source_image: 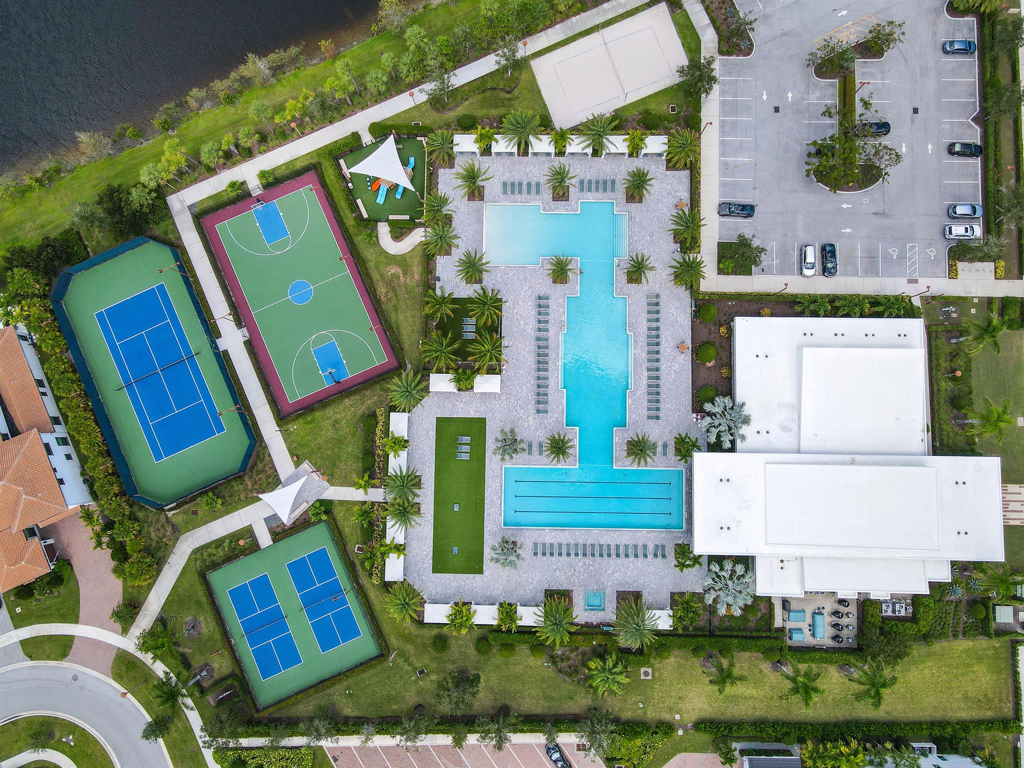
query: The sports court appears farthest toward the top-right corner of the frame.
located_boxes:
[530,1,690,130]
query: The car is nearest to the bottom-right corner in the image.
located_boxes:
[546,742,569,768]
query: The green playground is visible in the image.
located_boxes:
[338,137,425,220]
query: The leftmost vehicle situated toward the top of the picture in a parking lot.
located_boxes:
[718,201,754,218]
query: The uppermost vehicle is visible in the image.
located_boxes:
[942,39,975,56]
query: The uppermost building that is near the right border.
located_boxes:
[692,317,1005,599]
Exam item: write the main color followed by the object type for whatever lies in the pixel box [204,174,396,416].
green basketball court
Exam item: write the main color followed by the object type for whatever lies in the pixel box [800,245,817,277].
white car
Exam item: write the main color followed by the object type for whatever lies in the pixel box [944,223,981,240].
white car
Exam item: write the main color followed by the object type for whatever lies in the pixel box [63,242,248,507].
green tennis court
